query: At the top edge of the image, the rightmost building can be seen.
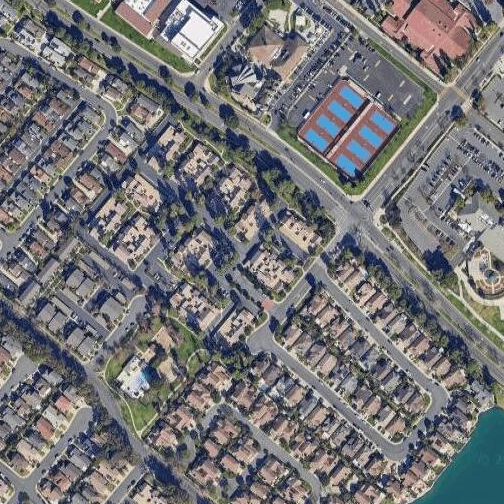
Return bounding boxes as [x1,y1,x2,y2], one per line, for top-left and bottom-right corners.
[383,0,480,66]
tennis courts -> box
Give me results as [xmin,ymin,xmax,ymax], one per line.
[309,107,347,143]
[340,133,377,167]
[320,93,358,128]
[352,118,389,152]
[297,121,335,157]
[363,104,400,139]
[332,79,369,113]
[328,147,365,181]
